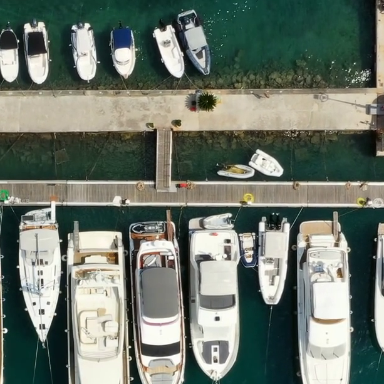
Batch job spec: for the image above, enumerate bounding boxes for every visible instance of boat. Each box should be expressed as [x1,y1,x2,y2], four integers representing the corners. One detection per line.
[23,13,52,83]
[178,7,211,75]
[133,223,166,234]
[109,18,139,80]
[258,214,290,304]
[21,208,55,223]
[291,211,355,384]
[16,196,63,345]
[153,16,184,79]
[70,15,101,85]
[61,221,134,384]
[204,214,235,229]
[371,223,384,350]
[210,163,255,178]
[188,217,241,384]
[238,233,257,268]
[248,148,284,175]
[129,210,188,384]
[0,18,21,82]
